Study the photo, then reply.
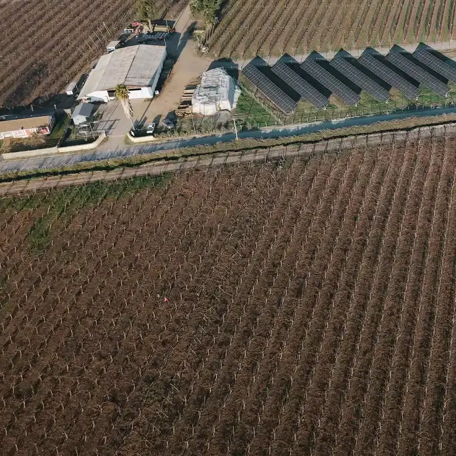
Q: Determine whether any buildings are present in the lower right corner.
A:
No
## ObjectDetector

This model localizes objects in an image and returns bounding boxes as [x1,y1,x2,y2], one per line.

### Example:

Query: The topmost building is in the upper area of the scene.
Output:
[67,39,166,104]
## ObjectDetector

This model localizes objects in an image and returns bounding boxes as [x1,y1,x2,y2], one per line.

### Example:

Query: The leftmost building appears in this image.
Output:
[0,110,56,139]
